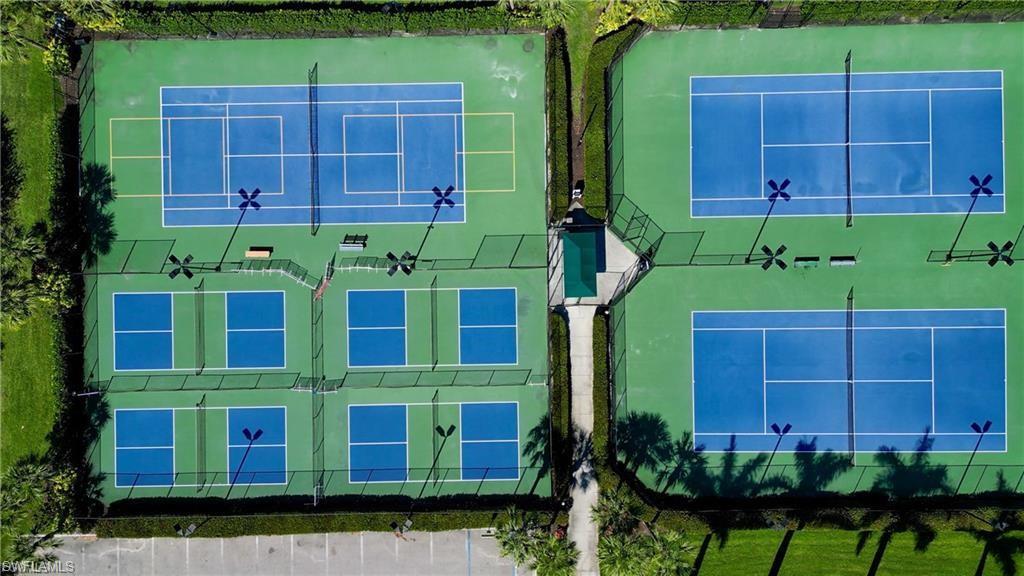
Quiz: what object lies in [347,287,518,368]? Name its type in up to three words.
sports court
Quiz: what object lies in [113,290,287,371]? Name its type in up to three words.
sports court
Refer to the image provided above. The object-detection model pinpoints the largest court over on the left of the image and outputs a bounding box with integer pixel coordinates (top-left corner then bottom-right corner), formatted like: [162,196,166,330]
[160,82,466,227]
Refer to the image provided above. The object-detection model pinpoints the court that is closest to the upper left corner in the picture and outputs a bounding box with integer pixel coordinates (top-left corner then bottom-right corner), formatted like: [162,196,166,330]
[110,116,283,198]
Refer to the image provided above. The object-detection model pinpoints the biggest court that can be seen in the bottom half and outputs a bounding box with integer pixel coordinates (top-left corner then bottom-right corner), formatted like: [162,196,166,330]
[692,308,1007,452]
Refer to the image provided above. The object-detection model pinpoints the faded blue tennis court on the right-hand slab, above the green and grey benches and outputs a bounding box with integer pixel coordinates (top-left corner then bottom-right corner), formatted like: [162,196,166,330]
[690,70,1005,218]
